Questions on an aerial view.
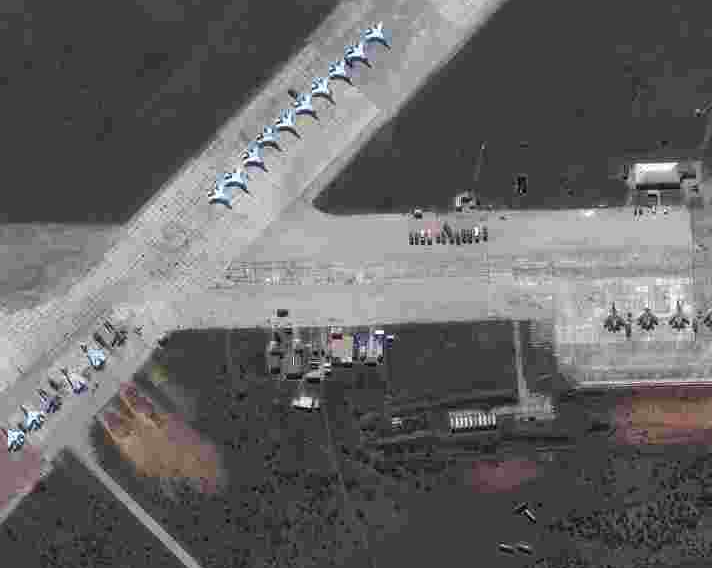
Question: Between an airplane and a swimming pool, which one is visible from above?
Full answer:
Visible in the photo is an airplane.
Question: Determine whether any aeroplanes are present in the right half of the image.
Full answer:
Yes, an aeroplane appears in the right half of the image.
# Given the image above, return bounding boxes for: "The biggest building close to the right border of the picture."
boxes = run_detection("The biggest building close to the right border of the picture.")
[634,163,679,187]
